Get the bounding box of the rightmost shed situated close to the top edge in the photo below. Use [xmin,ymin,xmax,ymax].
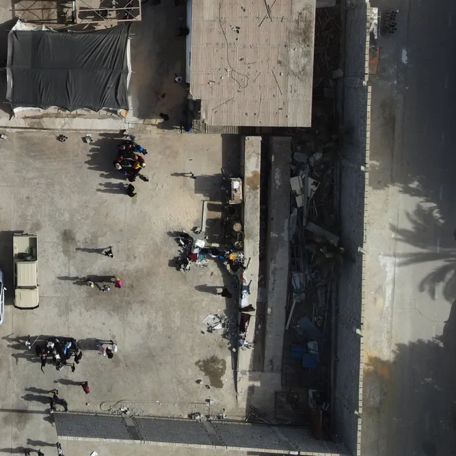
[187,0,315,129]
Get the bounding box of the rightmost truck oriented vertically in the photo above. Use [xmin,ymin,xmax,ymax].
[11,234,42,310]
